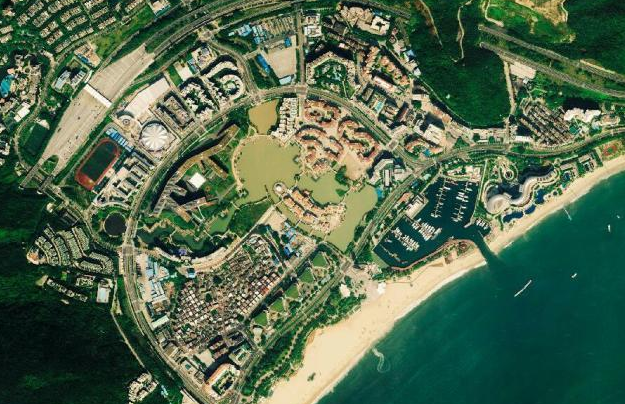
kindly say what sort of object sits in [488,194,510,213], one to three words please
building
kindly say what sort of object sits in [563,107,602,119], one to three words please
building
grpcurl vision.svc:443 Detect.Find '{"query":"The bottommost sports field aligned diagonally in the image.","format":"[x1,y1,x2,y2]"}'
[79,145,115,184]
